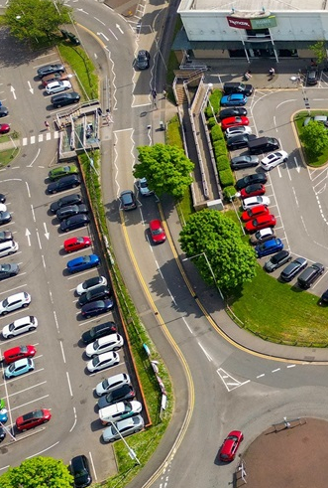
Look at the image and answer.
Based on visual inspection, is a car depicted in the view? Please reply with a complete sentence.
Yes, there is a car in the image.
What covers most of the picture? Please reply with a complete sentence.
The scene is dominated by paved ground.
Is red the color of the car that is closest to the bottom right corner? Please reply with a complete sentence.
Yes, the car that is closest to the bottom right corner is indeed red.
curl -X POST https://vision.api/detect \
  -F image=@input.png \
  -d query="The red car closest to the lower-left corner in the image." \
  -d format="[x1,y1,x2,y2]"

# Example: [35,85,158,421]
[15,409,52,432]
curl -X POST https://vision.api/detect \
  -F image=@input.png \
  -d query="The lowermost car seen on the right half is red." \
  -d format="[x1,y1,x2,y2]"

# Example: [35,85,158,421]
[218,429,244,461]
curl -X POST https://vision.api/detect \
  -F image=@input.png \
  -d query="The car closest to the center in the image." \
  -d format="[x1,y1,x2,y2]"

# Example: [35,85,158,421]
[149,219,165,243]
